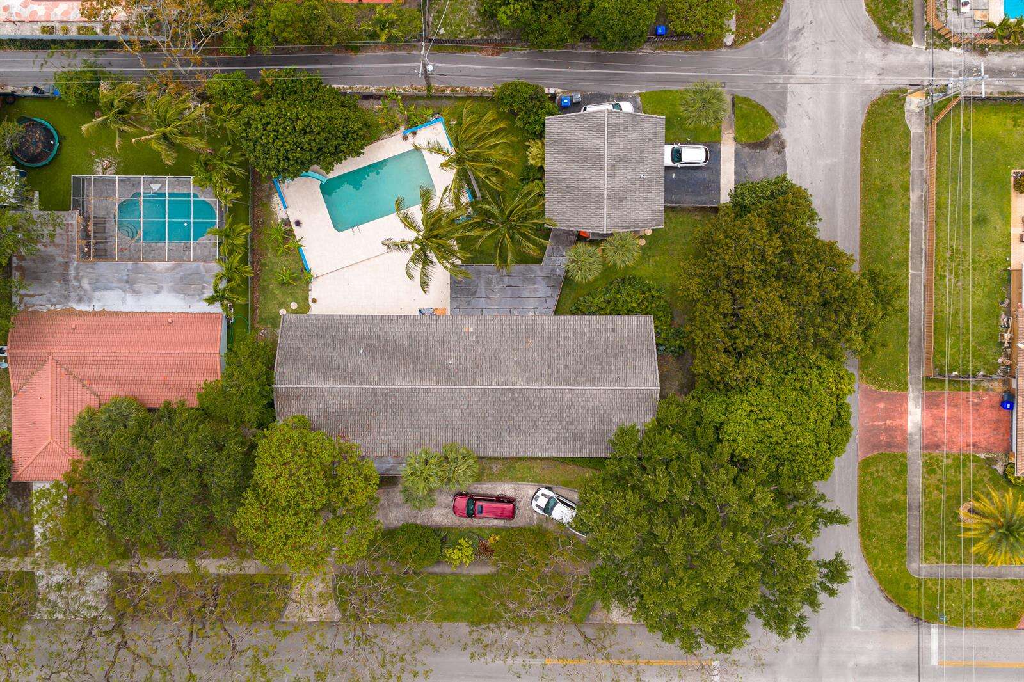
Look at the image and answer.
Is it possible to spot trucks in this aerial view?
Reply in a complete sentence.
No, I can't see a single truck in this photo.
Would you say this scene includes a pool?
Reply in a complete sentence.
Yes, a pool can be made out from above.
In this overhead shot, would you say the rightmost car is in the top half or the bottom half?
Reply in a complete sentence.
Seen from above, the rightmost car lies in the top half of the view.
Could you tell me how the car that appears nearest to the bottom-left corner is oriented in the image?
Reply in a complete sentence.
The car that appears nearest to the bottom-left corner runs from left to right in the image.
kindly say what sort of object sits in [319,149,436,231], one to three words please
swimming pool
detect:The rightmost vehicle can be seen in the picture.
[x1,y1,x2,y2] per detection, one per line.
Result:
[665,138,710,168]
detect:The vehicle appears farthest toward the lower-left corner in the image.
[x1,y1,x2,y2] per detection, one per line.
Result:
[453,491,516,522]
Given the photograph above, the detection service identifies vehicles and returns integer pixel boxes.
[453,491,516,522]
[665,138,710,168]
[579,93,636,109]
[530,491,589,536]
